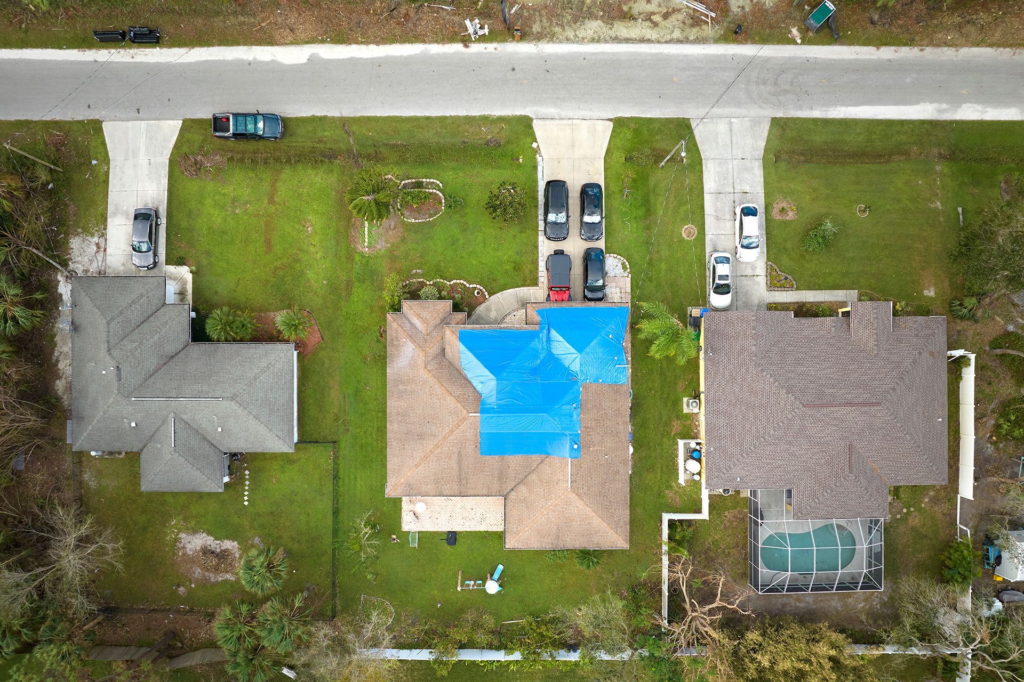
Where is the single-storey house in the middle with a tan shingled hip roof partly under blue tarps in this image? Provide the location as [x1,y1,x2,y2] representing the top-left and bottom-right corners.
[385,298,631,551]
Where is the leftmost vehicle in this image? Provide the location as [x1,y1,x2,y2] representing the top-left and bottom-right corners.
[129,207,162,269]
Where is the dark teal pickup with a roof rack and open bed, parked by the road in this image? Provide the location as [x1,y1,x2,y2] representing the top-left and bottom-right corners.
[210,109,285,142]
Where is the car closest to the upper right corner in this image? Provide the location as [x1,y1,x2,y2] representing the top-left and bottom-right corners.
[731,203,762,263]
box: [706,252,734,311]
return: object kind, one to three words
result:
car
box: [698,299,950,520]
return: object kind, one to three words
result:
house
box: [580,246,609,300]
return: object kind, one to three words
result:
car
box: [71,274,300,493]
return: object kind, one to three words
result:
house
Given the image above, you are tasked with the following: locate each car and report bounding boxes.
[731,203,762,263]
[546,247,572,300]
[129,207,162,269]
[580,246,609,300]
[542,180,572,242]
[706,252,734,311]
[578,183,607,243]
